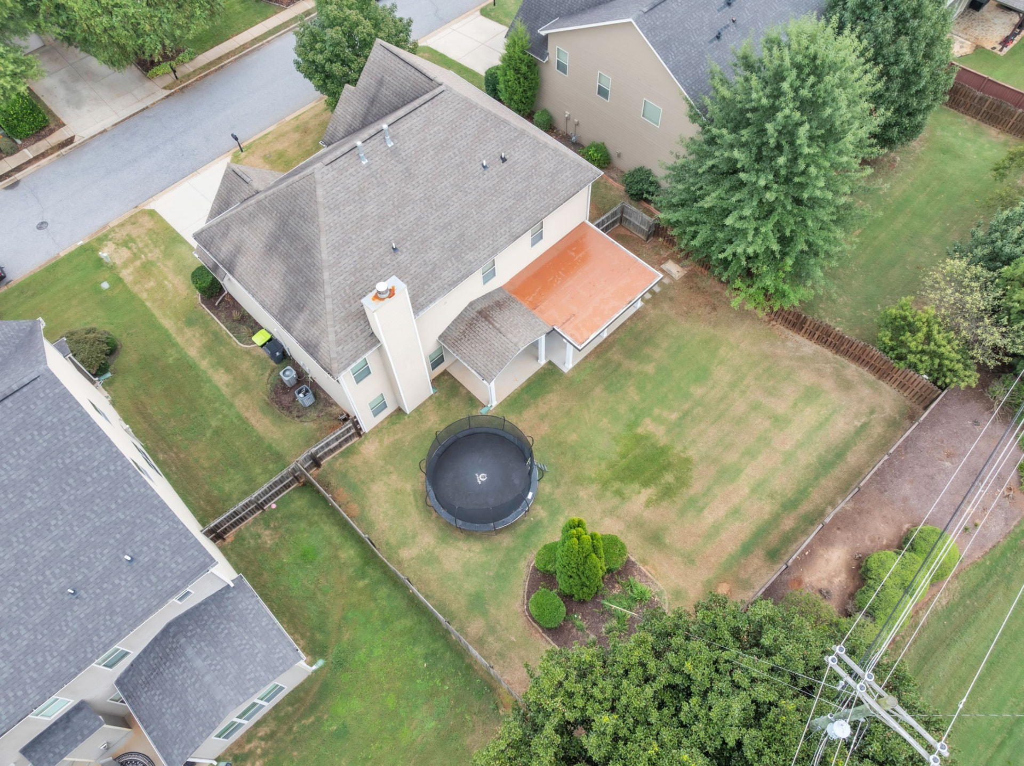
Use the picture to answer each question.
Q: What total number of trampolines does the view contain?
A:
one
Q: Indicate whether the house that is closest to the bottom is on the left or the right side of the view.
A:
left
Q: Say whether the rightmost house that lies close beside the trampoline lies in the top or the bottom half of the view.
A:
top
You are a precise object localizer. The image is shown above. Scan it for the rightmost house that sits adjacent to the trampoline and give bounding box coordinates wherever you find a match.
[189,38,666,433]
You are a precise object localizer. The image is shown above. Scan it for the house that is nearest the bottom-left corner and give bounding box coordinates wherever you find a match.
[0,317,320,766]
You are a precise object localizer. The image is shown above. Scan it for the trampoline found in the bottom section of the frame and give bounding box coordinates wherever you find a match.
[420,411,542,534]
